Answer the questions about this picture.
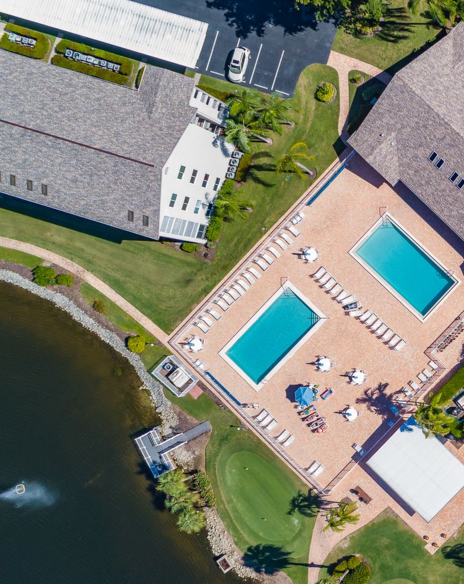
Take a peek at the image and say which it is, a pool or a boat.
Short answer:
pool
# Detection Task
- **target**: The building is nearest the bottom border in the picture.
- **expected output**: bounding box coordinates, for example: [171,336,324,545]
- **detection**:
[365,417,464,523]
